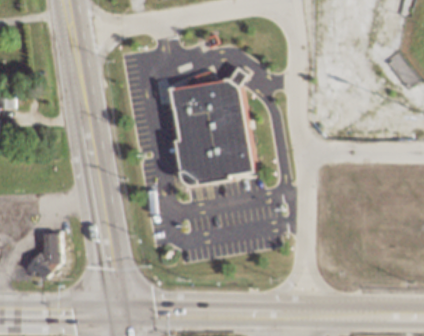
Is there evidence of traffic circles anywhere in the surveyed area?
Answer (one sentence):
No, there isn't any traffic circle down there.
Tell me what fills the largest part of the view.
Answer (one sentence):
Most of the picture is covered by paved ground.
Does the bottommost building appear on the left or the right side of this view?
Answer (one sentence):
You can find the bottommost building on the left side of the picture.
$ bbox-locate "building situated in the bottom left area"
[29,232,64,277]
